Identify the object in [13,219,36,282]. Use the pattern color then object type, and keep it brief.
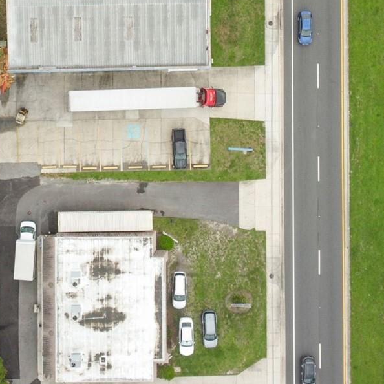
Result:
white truck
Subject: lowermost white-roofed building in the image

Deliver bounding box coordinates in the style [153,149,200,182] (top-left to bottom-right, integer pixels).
[32,231,168,382]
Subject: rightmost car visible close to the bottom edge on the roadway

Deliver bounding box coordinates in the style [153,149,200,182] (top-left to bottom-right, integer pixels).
[299,355,318,384]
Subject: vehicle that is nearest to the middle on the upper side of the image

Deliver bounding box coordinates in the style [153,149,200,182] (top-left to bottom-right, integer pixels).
[171,127,190,169]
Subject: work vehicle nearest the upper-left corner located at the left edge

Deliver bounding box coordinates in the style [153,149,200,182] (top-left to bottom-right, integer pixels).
[15,106,30,125]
